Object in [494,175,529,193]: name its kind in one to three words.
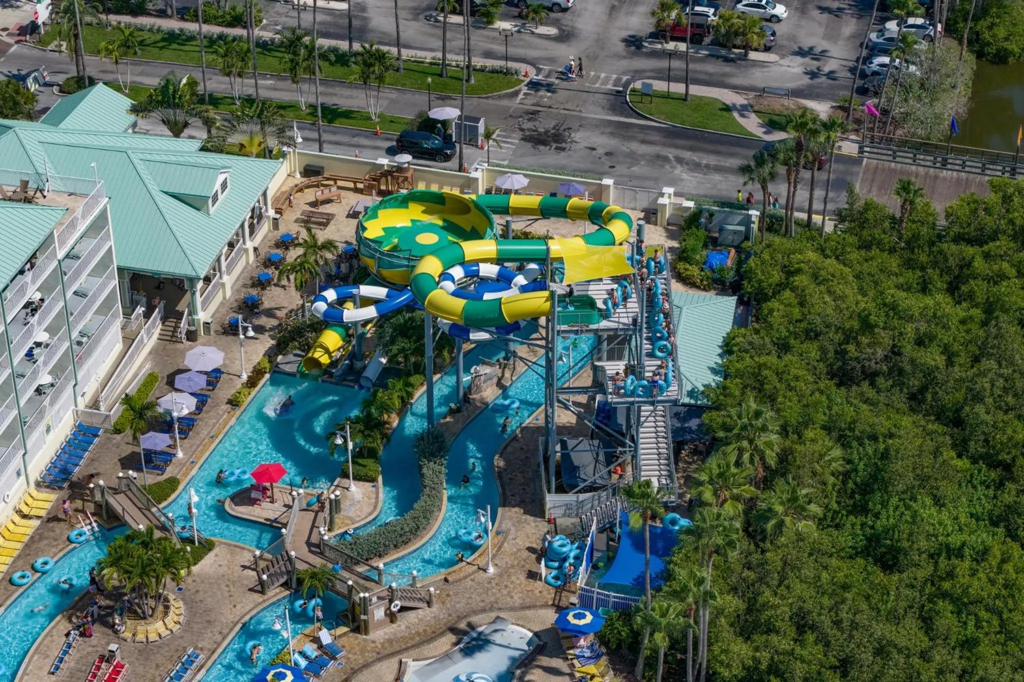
umbrella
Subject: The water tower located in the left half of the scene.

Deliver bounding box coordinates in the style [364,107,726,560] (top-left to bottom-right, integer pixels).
[390,153,412,197]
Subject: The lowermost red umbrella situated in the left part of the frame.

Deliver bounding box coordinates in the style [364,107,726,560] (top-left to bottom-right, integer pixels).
[250,463,291,508]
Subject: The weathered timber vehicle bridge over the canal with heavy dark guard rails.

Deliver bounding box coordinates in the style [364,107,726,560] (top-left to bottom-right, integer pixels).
[844,119,1024,249]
